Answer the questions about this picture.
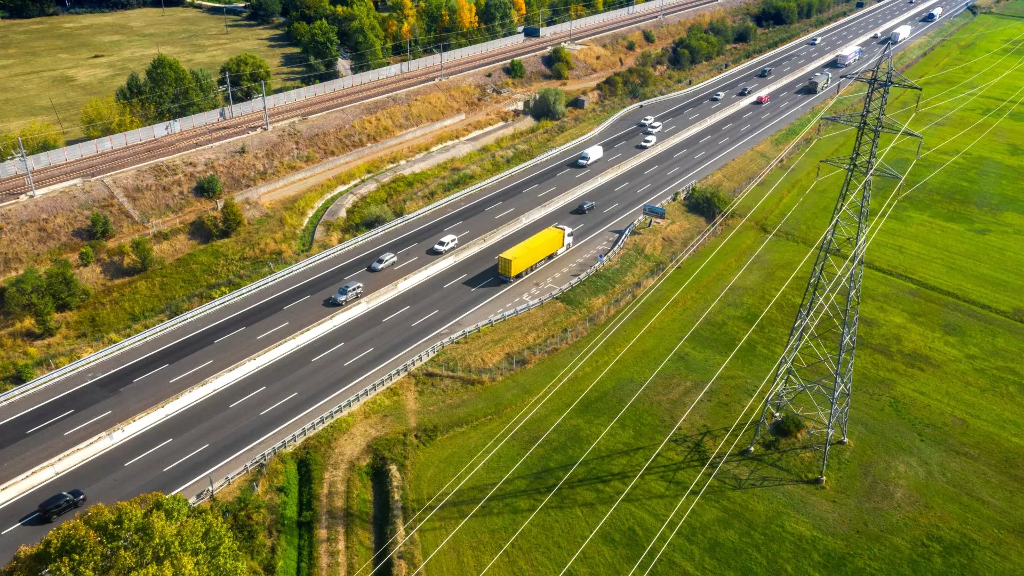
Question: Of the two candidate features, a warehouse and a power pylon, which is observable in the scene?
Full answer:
Of the two, only a power pylon appears.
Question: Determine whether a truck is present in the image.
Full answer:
Yes, a truck appears in the view.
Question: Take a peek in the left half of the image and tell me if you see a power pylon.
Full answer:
No, no power pylon can be made out in the left half of the image.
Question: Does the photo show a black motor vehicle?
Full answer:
Yes, there's a black motor vehicle here.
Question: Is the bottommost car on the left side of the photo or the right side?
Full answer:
It is on the left.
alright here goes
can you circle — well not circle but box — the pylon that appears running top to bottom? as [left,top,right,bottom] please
[744,41,925,487]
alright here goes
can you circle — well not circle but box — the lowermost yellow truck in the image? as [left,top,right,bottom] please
[498,226,574,281]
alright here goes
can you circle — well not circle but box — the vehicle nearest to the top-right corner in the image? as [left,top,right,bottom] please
[925,3,946,20]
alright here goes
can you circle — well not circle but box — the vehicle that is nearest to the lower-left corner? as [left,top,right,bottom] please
[29,486,91,526]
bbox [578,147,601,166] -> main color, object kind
white vehicle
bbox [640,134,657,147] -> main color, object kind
white vehicle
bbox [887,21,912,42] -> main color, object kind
white truck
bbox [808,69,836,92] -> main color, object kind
gray truck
